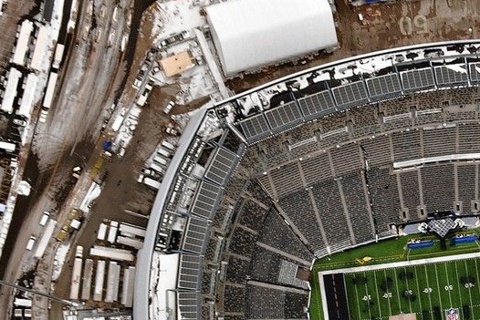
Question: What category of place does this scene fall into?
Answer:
sports ground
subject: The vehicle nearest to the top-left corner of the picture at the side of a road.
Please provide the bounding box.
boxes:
[52,43,65,68]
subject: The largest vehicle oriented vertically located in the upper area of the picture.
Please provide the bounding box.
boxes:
[41,71,60,117]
